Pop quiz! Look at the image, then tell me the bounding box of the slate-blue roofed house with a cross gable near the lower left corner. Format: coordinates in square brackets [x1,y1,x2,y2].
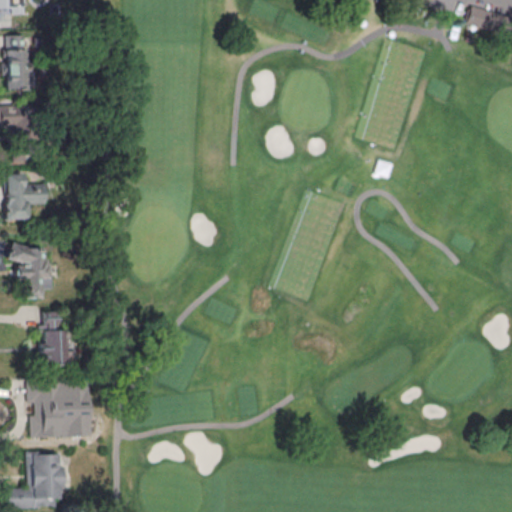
[12,452,66,510]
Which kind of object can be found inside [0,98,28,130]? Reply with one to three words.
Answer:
house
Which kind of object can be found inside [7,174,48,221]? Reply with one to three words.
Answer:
house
